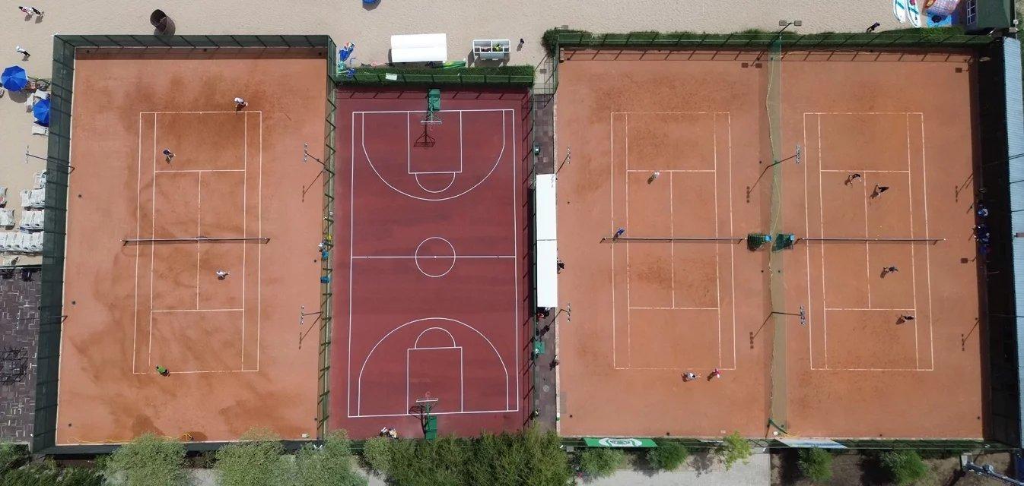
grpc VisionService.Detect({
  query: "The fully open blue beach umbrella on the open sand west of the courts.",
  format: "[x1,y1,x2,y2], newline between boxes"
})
[3,66,30,91]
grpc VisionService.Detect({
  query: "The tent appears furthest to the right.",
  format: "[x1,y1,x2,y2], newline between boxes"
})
[391,33,447,65]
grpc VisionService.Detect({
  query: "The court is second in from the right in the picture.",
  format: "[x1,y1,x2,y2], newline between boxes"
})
[554,46,770,439]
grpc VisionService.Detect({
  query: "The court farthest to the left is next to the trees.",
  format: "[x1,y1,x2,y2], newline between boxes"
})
[55,45,331,446]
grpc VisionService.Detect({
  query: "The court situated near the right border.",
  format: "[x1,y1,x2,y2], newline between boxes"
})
[769,47,992,441]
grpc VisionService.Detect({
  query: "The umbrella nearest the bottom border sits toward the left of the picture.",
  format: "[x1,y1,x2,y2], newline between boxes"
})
[34,102,49,123]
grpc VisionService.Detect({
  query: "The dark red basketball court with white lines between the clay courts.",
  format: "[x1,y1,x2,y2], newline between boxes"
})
[329,85,533,440]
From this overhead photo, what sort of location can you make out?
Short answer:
sports ground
